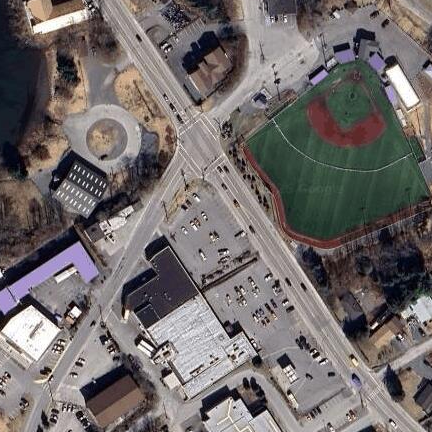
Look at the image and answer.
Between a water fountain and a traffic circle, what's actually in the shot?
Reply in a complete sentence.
The one in the frame is a traffic circle.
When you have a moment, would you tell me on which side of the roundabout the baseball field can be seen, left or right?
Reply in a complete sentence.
Relative to the roundabout, the baseball field lies to the right.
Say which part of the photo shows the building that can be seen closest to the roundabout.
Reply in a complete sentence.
You can find the building that can be seen closest to the roundabout in the left area of the picture.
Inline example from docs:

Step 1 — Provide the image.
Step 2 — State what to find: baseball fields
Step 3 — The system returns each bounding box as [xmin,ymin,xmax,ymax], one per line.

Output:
[242,60,432,249]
